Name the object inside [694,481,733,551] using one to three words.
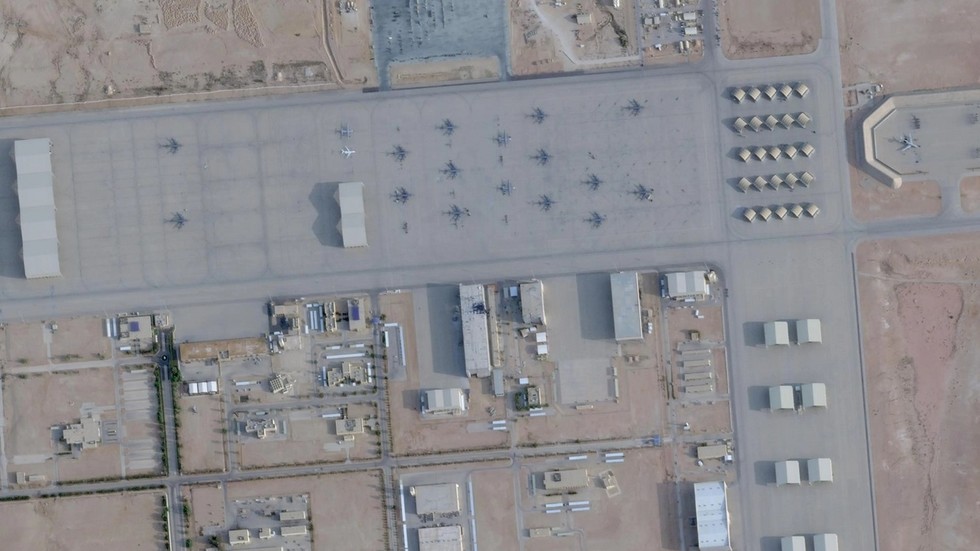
hangar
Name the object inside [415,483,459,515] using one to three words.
building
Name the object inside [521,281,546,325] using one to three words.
hangar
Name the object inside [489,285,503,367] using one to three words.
building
